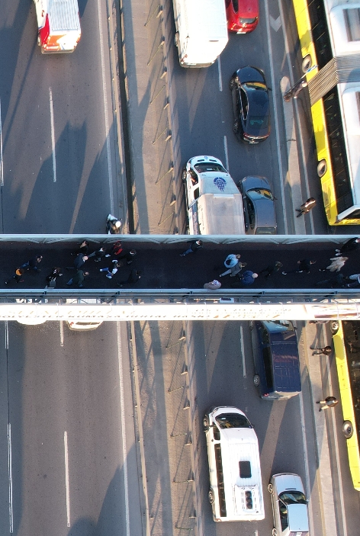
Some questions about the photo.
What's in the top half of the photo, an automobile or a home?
automobile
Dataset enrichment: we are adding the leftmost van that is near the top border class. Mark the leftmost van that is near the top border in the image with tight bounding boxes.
[38,0,85,48]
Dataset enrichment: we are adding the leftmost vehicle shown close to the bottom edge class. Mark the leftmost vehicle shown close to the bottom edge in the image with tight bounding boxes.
[207,411,272,518]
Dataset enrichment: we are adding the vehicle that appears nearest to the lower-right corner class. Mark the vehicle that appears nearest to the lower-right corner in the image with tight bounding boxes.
[269,475,314,536]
